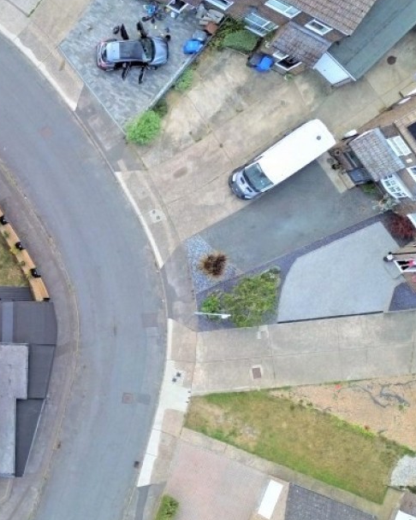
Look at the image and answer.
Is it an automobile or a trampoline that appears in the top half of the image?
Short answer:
automobile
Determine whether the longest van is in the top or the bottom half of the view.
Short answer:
top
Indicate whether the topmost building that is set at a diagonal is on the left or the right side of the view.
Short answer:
right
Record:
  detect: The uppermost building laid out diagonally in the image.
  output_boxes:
[313,0,416,90]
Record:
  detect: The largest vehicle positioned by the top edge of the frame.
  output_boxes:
[98,16,171,81]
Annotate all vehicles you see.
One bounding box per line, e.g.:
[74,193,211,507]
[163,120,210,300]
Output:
[226,119,337,203]
[98,16,171,81]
